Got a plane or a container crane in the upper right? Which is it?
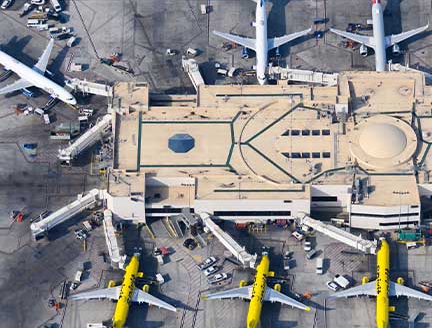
plane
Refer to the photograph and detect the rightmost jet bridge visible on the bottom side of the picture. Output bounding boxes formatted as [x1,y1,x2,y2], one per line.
[299,212,384,258]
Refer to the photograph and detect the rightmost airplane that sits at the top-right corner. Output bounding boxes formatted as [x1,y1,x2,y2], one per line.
[327,0,430,71]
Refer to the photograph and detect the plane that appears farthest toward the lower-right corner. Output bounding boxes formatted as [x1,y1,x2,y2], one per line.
[326,239,432,328]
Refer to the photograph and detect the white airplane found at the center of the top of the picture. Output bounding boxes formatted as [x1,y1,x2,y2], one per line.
[212,0,312,84]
